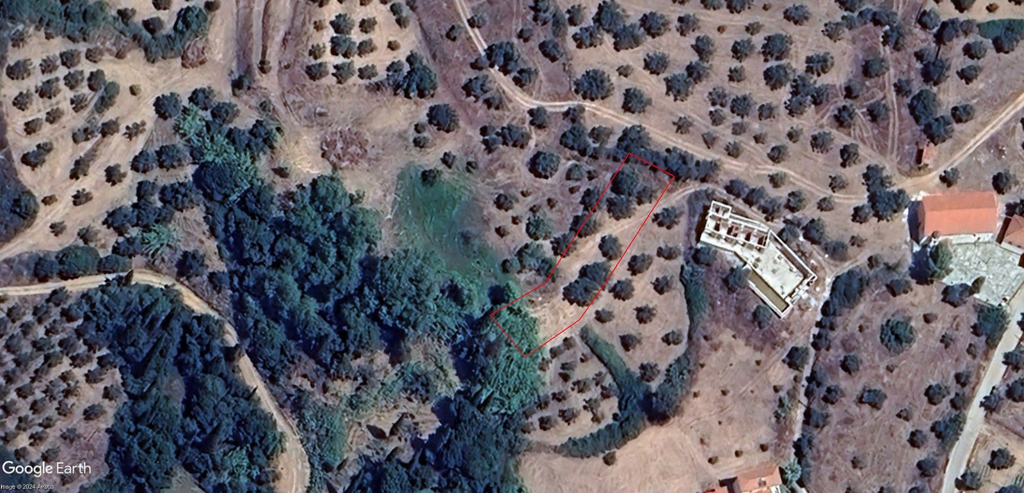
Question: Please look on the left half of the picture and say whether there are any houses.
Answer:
No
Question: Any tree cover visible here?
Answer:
Yes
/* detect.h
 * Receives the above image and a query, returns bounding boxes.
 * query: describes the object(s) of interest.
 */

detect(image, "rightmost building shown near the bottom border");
[734,464,783,493]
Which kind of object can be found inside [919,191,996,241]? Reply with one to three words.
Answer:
house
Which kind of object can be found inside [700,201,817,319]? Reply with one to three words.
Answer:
building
